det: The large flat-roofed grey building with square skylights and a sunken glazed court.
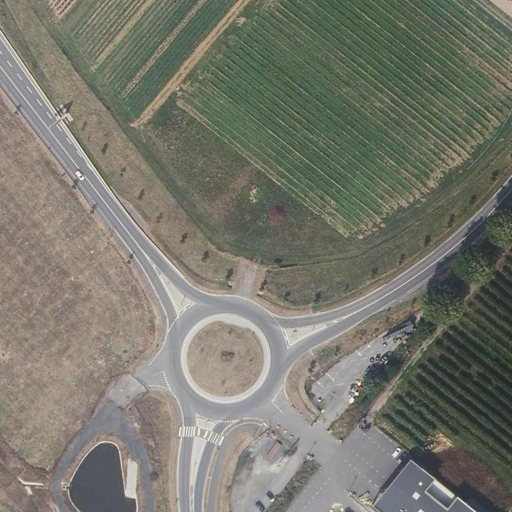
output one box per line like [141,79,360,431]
[373,459,475,512]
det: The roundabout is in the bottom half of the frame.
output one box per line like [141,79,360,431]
[164,295,288,421]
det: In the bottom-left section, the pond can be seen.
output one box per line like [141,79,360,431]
[61,442,138,512]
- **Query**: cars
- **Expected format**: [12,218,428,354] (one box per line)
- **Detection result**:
[266,490,274,501]
[362,422,370,432]
[76,169,85,180]
[398,452,408,463]
[256,500,265,512]
[392,448,401,459]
